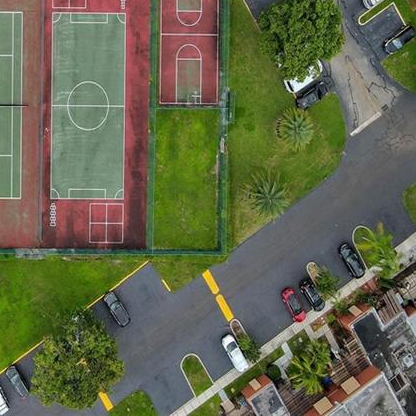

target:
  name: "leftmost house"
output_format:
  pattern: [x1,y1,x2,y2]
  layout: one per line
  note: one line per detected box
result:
[236,372,290,416]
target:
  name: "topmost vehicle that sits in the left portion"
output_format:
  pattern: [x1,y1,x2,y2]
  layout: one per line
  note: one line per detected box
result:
[104,291,132,328]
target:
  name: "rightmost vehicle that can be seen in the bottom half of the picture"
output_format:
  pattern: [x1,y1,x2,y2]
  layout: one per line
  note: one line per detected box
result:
[337,242,366,278]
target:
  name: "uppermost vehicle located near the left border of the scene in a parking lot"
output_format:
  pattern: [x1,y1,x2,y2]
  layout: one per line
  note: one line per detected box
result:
[6,364,30,398]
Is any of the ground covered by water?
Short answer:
No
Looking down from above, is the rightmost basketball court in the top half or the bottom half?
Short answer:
top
